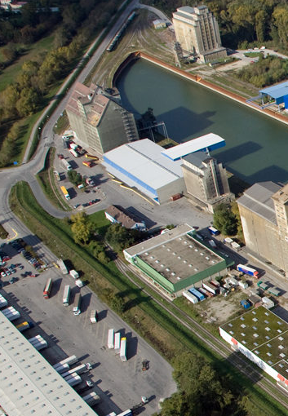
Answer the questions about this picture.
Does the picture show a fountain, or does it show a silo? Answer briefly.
silo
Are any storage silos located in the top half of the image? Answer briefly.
Yes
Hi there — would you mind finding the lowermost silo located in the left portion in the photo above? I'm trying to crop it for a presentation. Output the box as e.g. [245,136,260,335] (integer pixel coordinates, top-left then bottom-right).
[69,86,143,153]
